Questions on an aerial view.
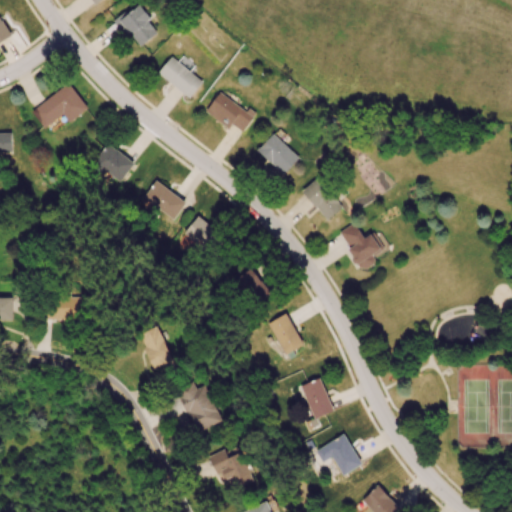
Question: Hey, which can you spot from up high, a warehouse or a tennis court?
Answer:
tennis court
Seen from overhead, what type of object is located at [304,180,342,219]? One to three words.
house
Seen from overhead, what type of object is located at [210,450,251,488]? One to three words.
house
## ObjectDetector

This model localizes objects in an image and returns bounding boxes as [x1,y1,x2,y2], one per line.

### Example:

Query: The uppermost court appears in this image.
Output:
[440,315,479,348]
